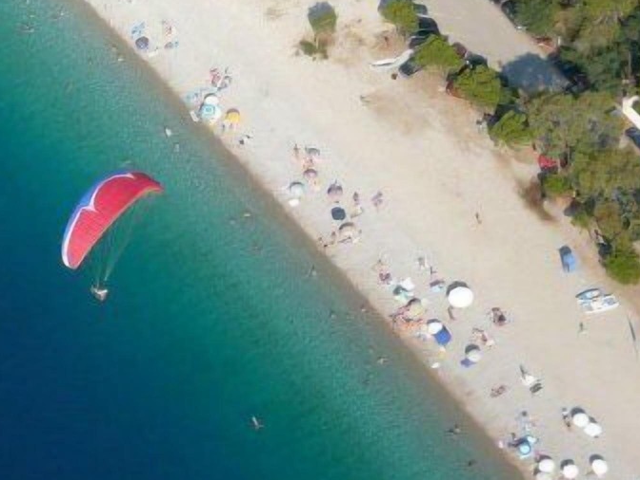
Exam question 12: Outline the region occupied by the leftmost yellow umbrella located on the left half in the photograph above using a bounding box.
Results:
[225,112,238,126]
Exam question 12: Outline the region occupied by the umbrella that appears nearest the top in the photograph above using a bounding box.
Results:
[134,37,149,51]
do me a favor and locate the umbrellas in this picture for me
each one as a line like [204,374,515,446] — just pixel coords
[585,423,602,440]
[289,183,303,197]
[447,285,473,309]
[397,286,412,301]
[539,460,554,475]
[591,461,607,476]
[134,37,149,51]
[563,465,578,480]
[517,443,532,456]
[332,208,346,222]
[428,323,441,336]
[203,106,219,121]
[468,350,482,366]
[305,170,318,183]
[537,472,552,480]
[575,412,590,428]
[407,302,423,317]
[225,112,238,126]
[435,329,452,346]
[203,94,218,106]
[306,149,320,163]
